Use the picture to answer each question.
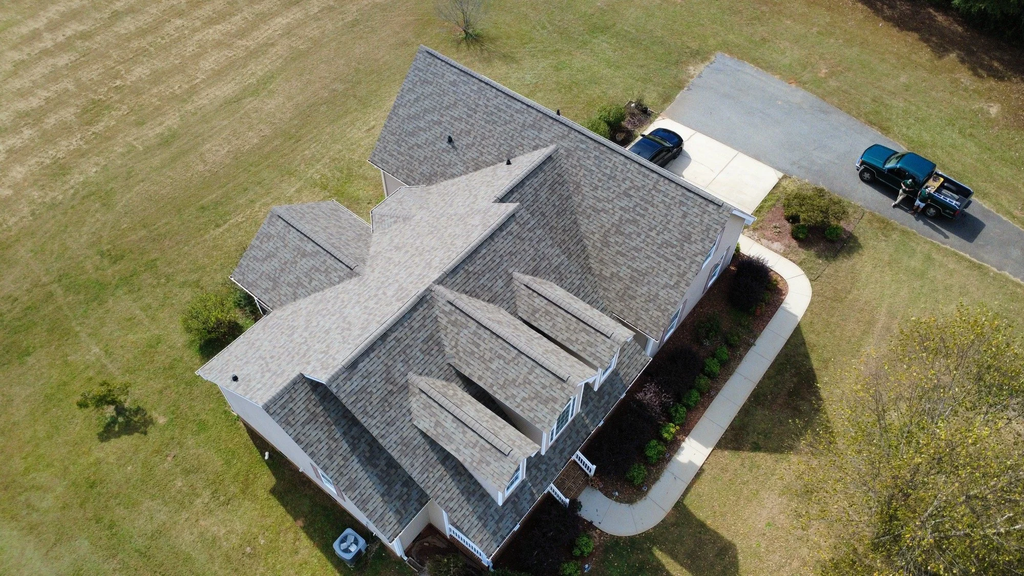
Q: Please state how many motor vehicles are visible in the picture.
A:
2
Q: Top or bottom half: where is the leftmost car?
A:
top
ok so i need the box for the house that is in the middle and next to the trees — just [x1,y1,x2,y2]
[194,45,758,576]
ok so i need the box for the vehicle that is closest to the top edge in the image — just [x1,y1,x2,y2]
[628,124,684,166]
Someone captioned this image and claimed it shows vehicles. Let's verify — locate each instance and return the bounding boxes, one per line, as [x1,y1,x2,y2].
[628,124,684,166]
[851,145,975,221]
